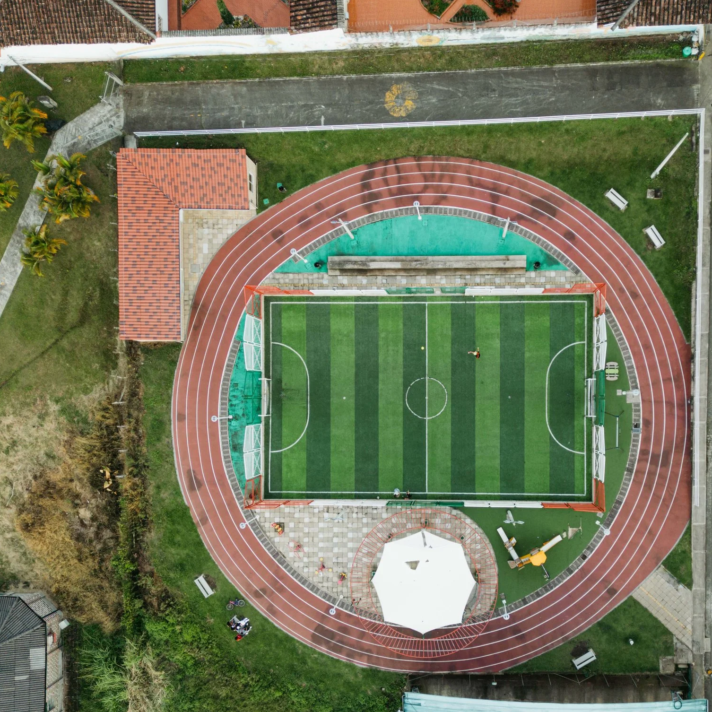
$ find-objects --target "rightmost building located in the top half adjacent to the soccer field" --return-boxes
[117,148,256,343]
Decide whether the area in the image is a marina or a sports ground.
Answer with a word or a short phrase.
sports ground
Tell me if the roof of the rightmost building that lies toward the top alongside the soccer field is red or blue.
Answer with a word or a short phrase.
red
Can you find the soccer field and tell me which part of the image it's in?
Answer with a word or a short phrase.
center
